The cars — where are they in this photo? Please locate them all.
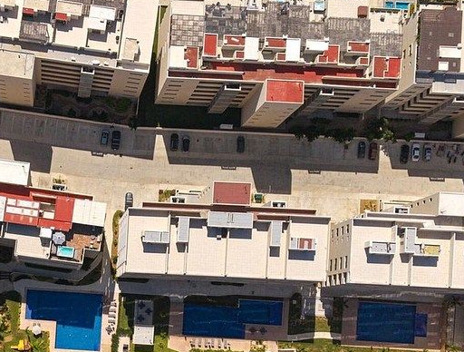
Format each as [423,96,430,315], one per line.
[357,140,366,160]
[411,144,420,162]
[183,134,191,153]
[170,132,178,151]
[367,141,377,161]
[101,128,109,147]
[236,135,244,153]
[399,145,409,164]
[423,145,432,161]
[125,191,134,211]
